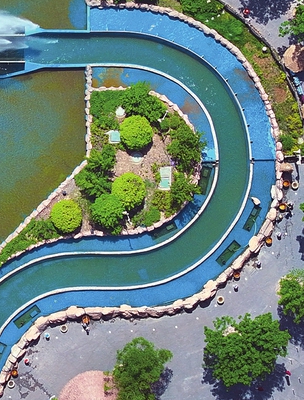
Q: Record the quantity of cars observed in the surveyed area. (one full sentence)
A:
The photo contains no cars.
